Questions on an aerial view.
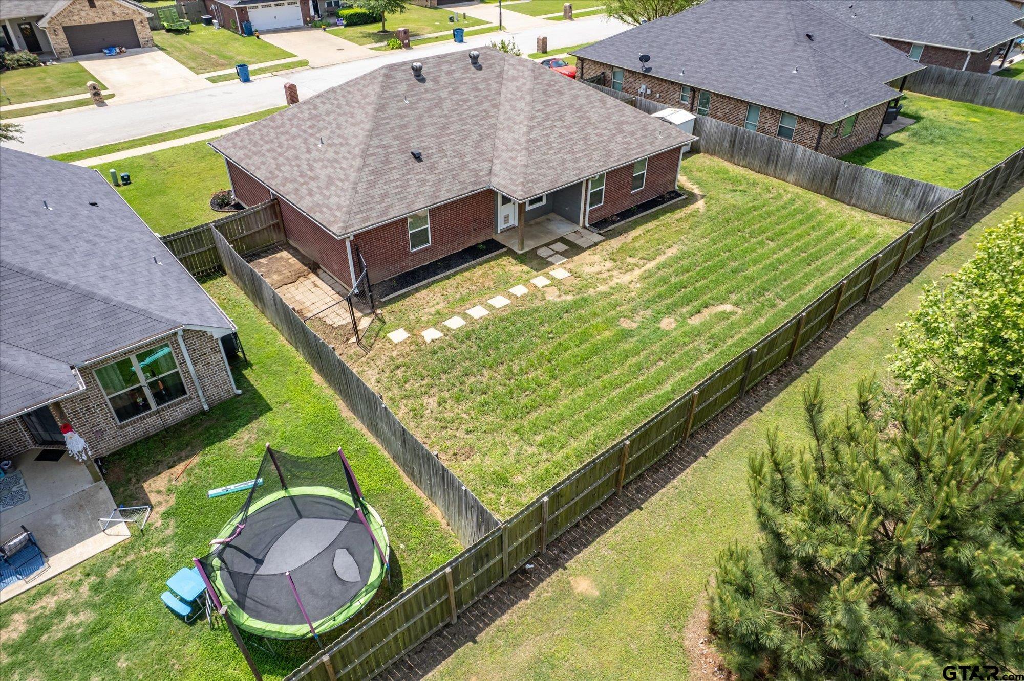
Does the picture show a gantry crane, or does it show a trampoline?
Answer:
trampoline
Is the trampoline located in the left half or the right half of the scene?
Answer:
left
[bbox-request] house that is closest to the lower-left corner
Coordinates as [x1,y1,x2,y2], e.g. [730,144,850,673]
[0,148,244,600]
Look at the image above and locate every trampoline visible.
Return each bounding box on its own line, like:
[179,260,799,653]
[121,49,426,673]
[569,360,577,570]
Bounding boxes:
[192,445,391,671]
